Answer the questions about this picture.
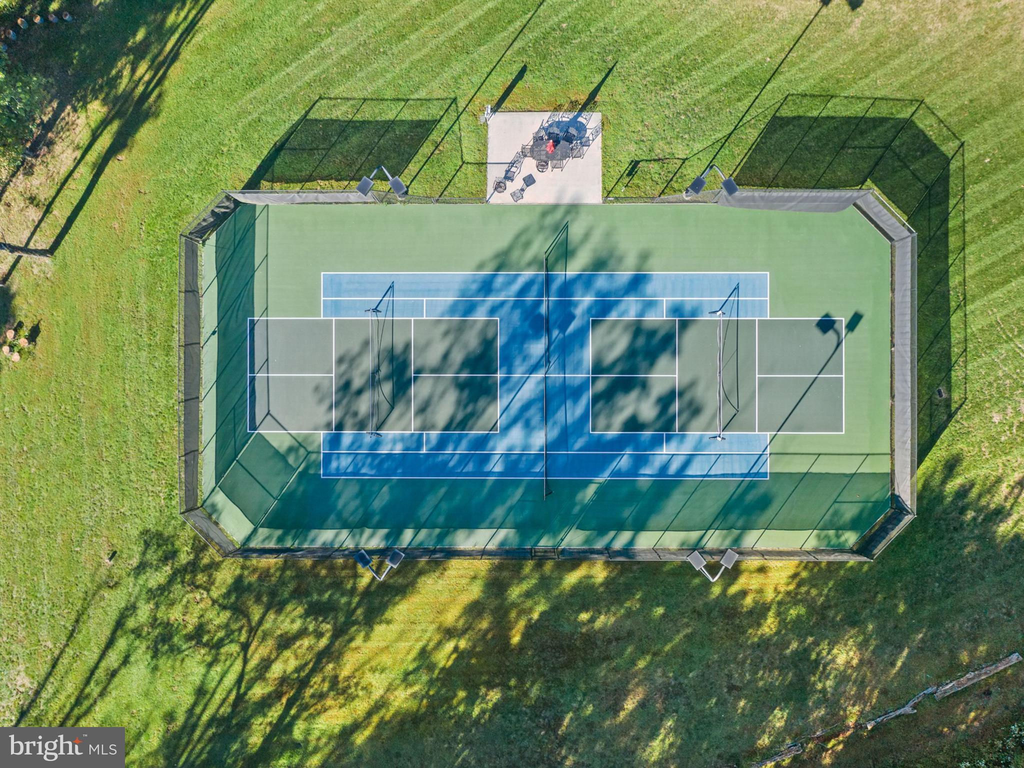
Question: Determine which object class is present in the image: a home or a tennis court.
tennis court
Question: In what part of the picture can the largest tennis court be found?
center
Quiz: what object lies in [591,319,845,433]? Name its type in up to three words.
sports court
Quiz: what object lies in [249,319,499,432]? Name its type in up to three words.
sports court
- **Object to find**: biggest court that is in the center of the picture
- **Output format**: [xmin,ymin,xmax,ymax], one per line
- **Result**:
[202,204,893,549]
